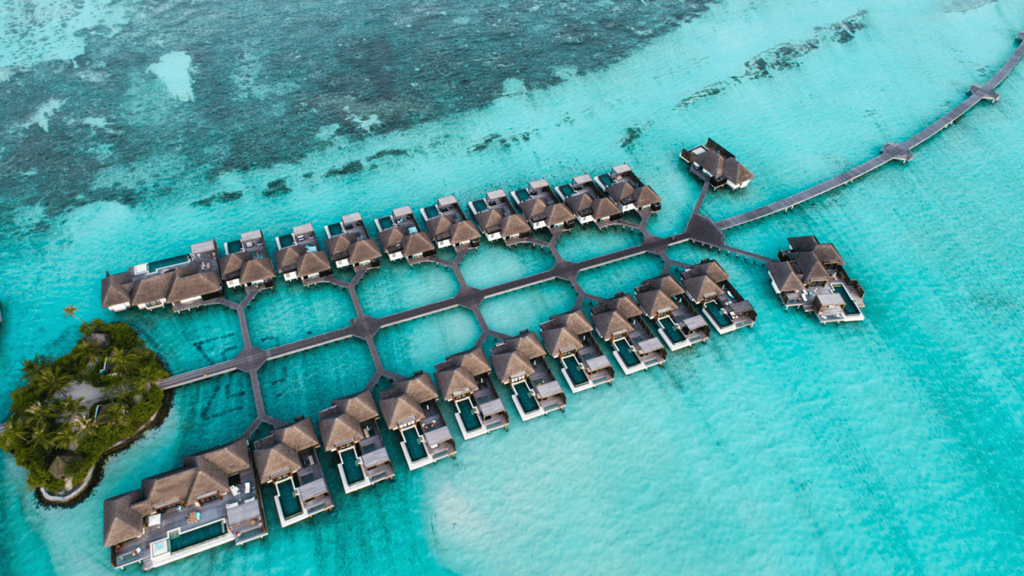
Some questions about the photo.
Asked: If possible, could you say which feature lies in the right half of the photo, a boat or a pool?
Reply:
pool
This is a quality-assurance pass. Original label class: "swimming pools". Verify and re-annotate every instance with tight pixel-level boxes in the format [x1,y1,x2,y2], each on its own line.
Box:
[325,223,346,239]
[375,217,397,233]
[276,234,298,251]
[554,185,576,206]
[827,284,864,323]
[511,379,545,424]
[700,301,737,338]
[400,424,434,473]
[654,316,691,354]
[593,175,616,196]
[275,475,310,530]
[225,240,246,254]
[610,337,646,378]
[454,397,487,443]
[338,445,371,496]
[559,354,594,396]
[689,146,707,156]
[468,200,490,221]
[420,206,441,222]
[511,190,532,211]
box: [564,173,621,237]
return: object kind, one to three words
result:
house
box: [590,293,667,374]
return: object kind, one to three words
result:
house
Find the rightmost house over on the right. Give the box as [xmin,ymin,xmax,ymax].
[760,234,869,329]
